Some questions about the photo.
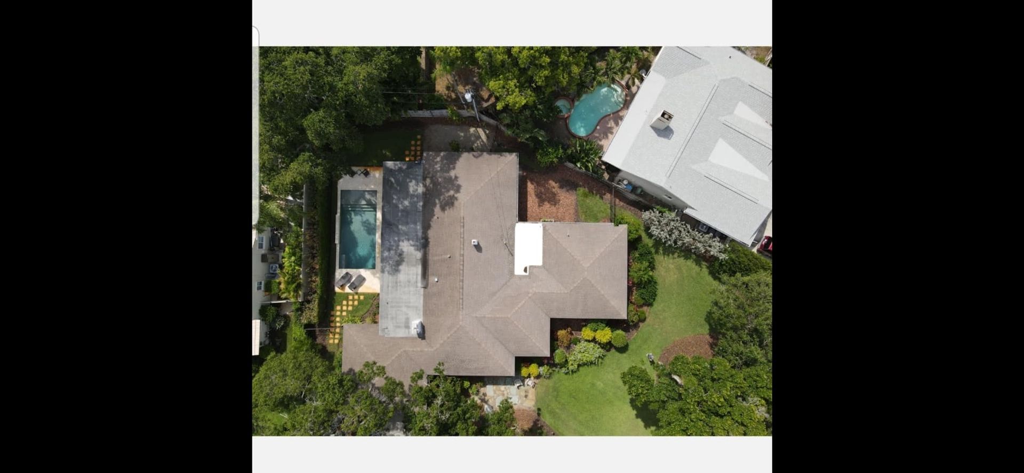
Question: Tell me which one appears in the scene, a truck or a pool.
pool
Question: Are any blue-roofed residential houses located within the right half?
No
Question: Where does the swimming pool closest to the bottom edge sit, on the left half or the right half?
left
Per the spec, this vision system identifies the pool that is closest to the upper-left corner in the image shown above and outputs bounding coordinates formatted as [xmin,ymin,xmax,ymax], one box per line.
[334,187,380,272]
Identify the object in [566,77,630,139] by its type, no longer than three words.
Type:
swimming pool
